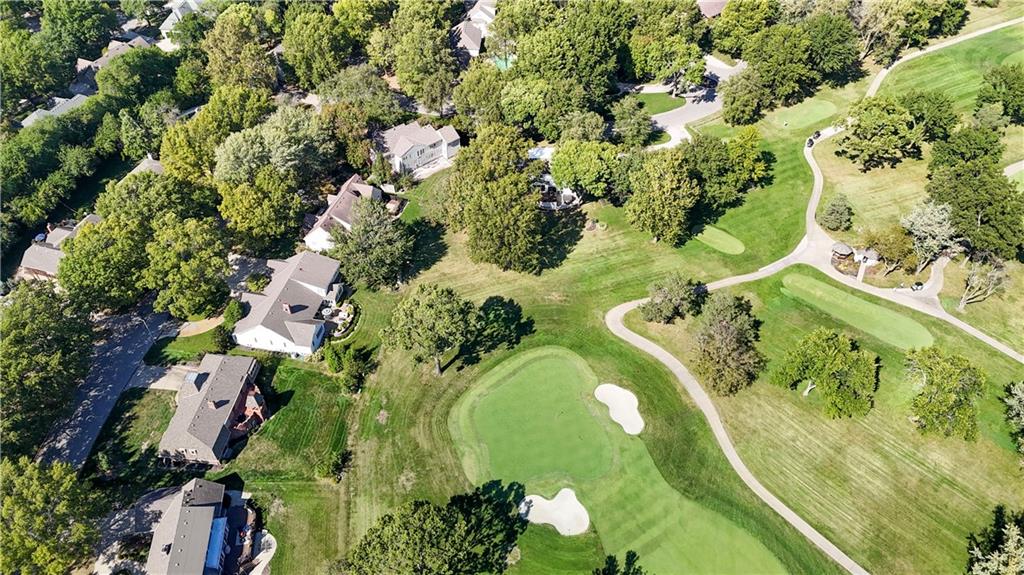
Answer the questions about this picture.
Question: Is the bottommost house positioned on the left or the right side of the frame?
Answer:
left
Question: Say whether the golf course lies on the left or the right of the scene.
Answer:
right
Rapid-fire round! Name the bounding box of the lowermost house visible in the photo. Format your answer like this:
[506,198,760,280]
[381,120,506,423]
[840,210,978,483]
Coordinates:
[142,479,232,575]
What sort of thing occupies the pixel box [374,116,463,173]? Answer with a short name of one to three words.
house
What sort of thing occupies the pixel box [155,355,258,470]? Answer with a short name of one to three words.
house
